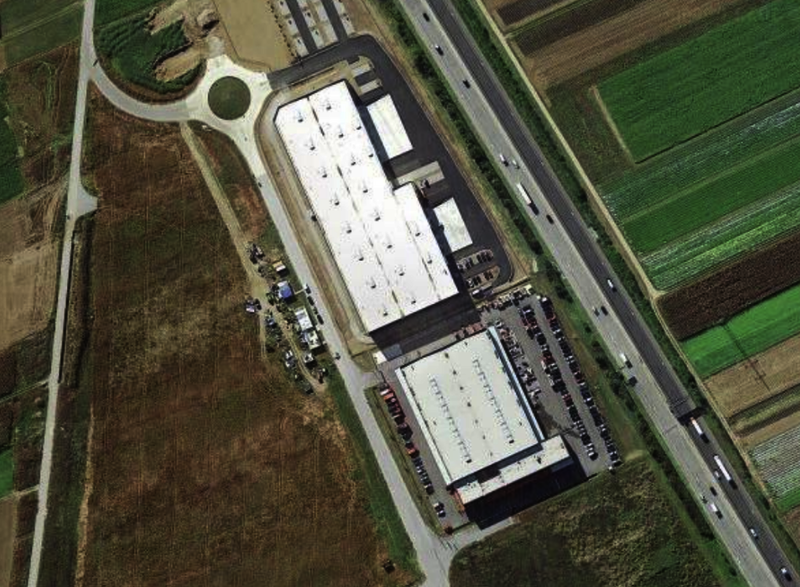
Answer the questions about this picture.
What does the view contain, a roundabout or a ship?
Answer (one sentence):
There is a roundabout in the scene.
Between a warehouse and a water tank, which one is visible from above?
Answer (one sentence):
The one in the frame is a warehouse.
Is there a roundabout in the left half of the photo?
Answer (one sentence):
Yes, looking in the left half of the photo, one can make out a roundabout.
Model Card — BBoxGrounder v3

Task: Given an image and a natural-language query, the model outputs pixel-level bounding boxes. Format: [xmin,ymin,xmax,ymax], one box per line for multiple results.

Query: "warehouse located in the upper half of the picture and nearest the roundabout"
[272,78,459,333]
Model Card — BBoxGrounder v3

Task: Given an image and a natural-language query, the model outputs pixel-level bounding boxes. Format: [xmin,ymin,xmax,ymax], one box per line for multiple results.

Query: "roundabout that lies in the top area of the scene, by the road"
[186,54,273,174]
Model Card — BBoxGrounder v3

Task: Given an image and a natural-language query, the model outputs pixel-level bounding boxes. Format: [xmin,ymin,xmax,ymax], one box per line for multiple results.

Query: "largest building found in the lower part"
[396,326,544,485]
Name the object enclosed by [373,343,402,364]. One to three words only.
shed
